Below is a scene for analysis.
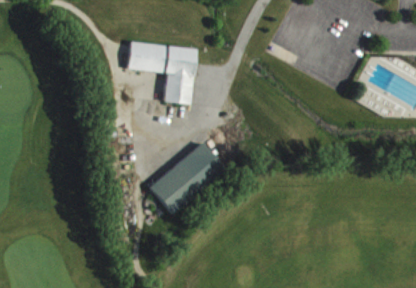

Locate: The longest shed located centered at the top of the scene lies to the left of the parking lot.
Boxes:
[164,45,198,106]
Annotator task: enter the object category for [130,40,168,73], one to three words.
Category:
shed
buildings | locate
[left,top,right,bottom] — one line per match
[152,143,228,214]
[164,45,198,106]
[130,40,168,73]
